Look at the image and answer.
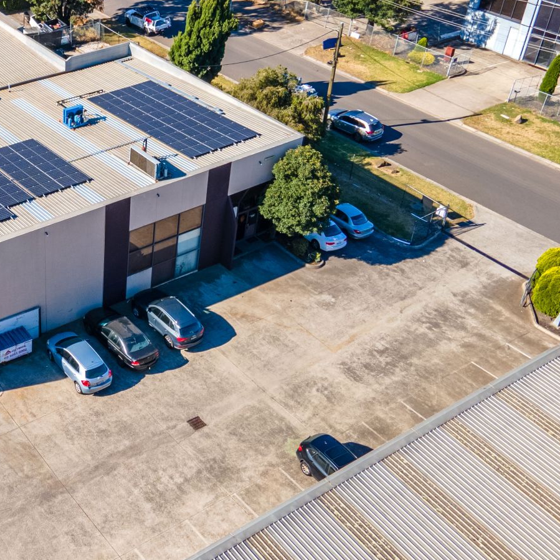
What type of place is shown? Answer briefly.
industrial area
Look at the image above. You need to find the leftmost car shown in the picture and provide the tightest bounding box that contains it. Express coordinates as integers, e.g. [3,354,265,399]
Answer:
[42,331,108,389]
